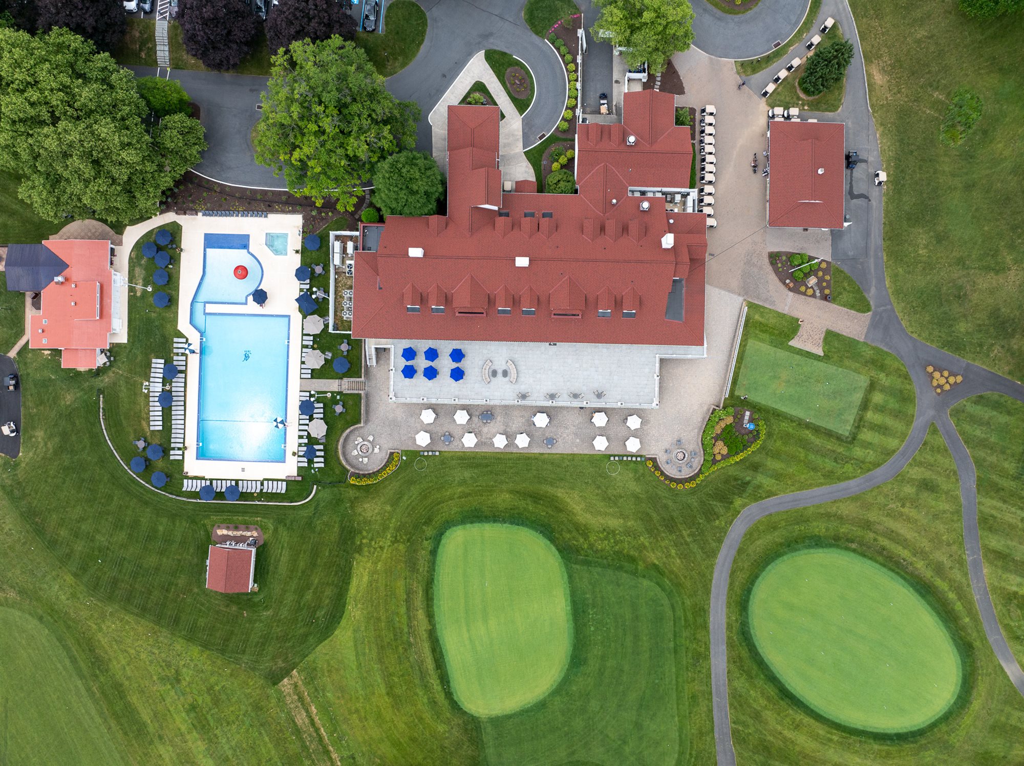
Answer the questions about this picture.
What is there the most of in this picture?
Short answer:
grass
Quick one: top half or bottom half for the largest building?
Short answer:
top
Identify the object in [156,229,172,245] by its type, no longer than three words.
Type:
umbrella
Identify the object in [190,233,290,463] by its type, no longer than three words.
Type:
swimming pool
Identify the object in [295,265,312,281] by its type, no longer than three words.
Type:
umbrella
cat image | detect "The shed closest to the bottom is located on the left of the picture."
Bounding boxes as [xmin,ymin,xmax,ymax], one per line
[203,544,258,593]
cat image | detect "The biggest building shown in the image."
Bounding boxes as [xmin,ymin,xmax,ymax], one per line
[351,89,708,347]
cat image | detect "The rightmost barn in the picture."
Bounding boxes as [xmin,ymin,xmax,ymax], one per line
[765,120,851,231]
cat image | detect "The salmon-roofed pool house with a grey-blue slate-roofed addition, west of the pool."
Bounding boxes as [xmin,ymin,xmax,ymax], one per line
[5,239,125,369]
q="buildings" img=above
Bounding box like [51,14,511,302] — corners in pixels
[765,120,851,231]
[351,89,708,347]
[5,239,125,369]
[203,544,258,593]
